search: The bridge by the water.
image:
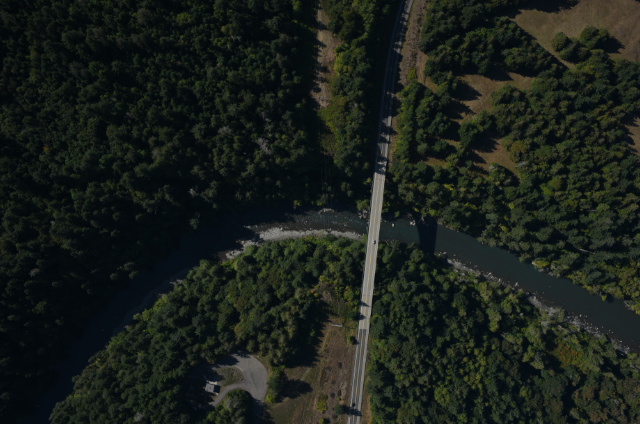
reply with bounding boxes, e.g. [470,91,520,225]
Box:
[359,179,384,328]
